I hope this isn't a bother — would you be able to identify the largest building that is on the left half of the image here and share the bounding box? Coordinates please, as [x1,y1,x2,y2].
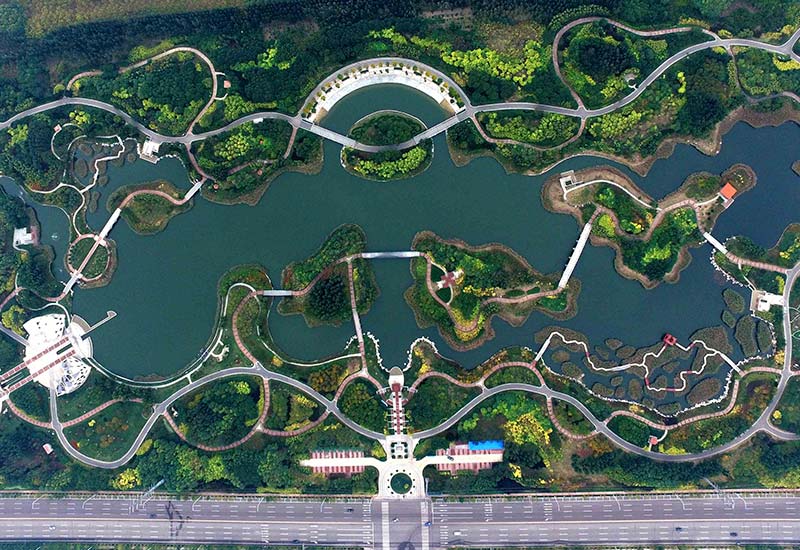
[140,141,162,164]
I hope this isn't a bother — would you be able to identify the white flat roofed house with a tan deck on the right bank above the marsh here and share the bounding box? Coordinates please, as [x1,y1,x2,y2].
[750,290,784,311]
